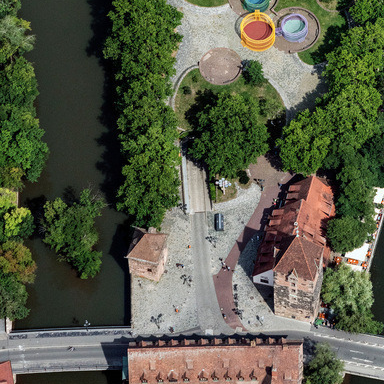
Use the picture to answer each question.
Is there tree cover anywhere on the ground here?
Yes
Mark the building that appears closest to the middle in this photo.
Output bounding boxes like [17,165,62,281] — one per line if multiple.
[126,228,169,279]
